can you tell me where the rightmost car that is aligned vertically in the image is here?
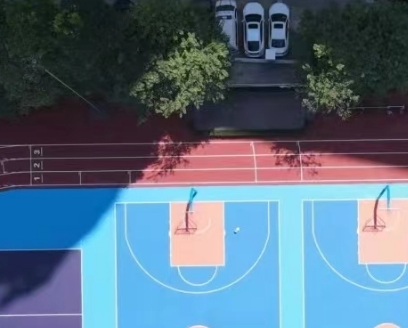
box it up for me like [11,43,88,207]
[266,4,291,58]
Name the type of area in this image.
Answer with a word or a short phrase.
sports ground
